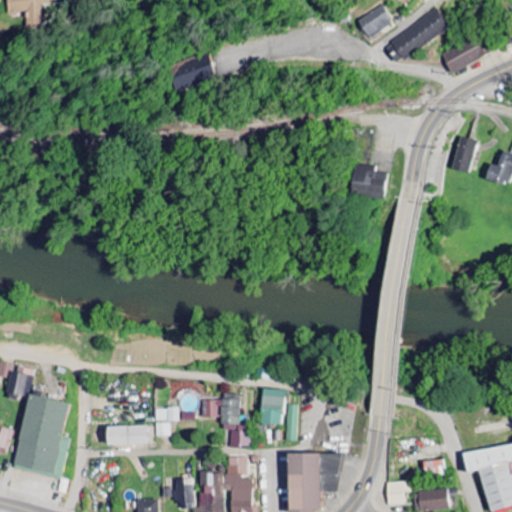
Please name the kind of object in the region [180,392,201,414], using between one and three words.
swimming pool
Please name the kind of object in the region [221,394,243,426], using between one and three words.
house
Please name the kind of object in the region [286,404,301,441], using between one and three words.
barn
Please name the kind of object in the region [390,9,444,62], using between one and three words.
building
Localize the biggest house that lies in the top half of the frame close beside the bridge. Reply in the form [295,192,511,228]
[351,164,392,199]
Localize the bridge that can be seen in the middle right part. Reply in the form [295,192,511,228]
[370,189,424,412]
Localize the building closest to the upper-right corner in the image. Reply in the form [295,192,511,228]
[444,42,489,74]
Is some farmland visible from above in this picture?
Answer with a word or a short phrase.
No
